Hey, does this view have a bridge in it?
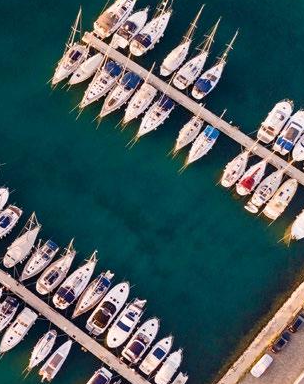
No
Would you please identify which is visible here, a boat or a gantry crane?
boat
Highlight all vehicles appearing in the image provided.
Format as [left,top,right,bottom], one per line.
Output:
[251,353,275,379]
[288,312,304,333]
[270,331,291,353]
